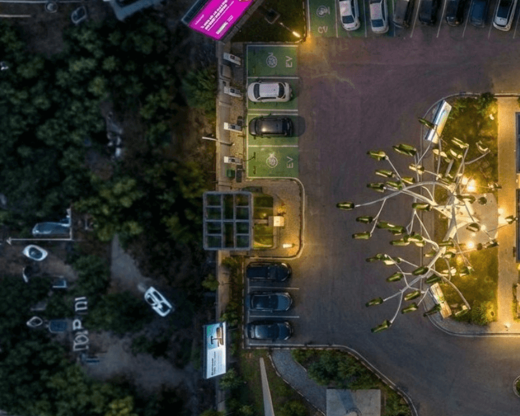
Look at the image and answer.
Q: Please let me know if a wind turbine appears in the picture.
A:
Yes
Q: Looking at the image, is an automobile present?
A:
Yes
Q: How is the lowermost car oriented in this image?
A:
from left to right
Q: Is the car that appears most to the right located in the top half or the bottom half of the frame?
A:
top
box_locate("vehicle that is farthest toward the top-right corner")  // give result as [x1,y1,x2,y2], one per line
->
[492,0,518,32]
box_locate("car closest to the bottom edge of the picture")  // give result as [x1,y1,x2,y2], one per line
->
[246,320,296,343]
